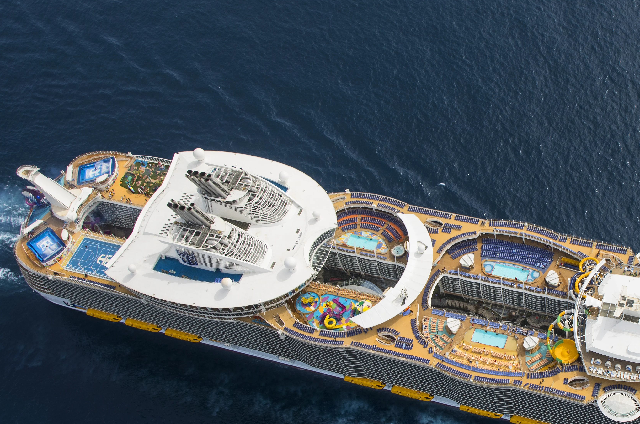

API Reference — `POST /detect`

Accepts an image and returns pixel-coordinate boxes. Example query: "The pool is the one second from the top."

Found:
[482,259,543,283]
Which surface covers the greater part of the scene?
water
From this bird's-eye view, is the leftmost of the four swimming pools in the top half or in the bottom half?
bottom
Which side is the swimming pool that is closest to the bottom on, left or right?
right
